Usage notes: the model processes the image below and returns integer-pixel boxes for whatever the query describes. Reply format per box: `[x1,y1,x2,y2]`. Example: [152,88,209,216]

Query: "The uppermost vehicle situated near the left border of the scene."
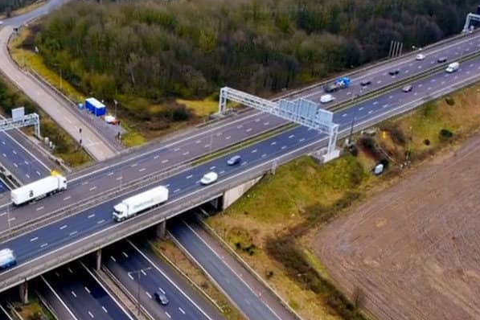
[14,176,69,206]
